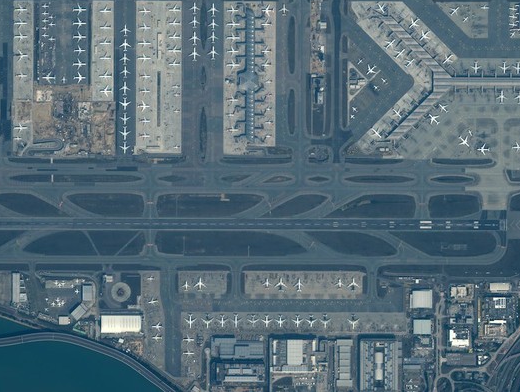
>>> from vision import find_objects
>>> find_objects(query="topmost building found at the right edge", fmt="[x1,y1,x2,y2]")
[380,11,520,138]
